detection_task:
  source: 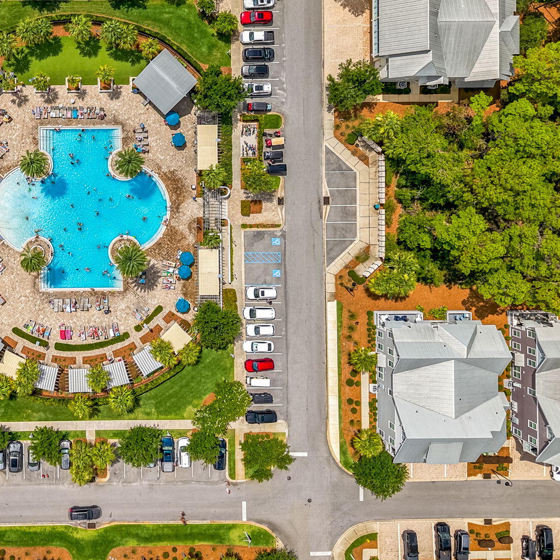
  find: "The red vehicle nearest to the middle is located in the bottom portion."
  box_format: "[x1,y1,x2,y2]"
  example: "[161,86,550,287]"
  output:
[243,358,273,373]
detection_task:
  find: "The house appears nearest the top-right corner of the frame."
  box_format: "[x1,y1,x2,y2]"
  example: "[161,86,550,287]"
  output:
[366,0,519,87]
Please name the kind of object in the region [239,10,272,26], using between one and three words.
car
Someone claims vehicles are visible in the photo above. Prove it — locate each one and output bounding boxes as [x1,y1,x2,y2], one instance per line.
[240,64,268,78]
[177,435,191,468]
[536,524,555,560]
[243,82,272,97]
[245,375,269,385]
[261,151,284,160]
[244,285,276,301]
[241,339,274,354]
[243,358,273,373]
[250,391,272,402]
[214,438,230,471]
[401,529,419,560]
[518,533,536,559]
[241,306,275,322]
[264,137,287,147]
[550,462,560,482]
[263,165,287,173]
[239,10,272,26]
[245,323,274,337]
[434,521,453,560]
[239,29,274,44]
[246,103,269,113]
[161,435,176,473]
[26,449,39,472]
[8,440,23,472]
[68,504,101,522]
[242,0,273,9]
[244,408,277,424]
[452,529,472,560]
[242,46,274,62]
